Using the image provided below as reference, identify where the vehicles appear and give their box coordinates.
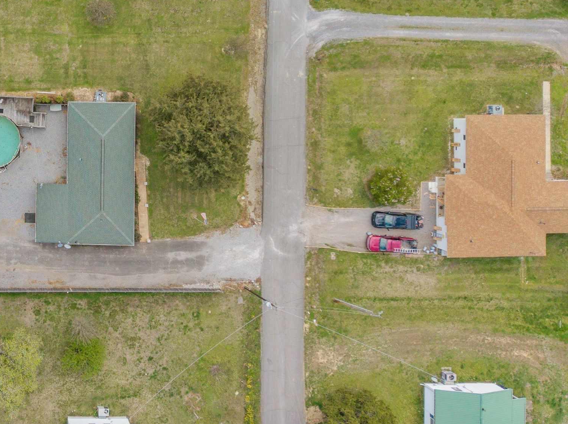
[368,209,423,233]
[364,232,417,256]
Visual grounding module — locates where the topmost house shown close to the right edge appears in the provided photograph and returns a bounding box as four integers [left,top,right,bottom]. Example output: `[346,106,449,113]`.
[438,114,568,258]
